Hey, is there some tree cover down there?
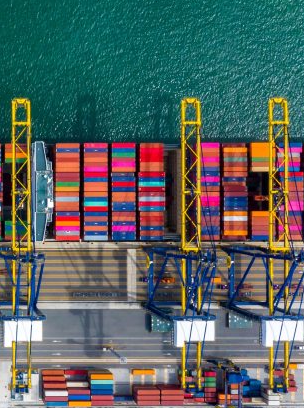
No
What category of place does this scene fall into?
port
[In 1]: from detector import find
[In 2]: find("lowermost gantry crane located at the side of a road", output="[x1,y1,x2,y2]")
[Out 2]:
[203,361,243,408]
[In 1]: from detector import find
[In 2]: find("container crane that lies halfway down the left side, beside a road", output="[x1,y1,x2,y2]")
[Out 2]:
[0,99,47,395]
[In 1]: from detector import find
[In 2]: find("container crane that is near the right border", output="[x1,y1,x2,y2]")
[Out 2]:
[213,99,304,395]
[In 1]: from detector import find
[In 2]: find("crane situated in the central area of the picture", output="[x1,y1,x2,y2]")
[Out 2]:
[136,99,220,395]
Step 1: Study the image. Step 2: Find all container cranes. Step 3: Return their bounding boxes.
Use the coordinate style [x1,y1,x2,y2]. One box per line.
[136,99,220,395]
[203,361,243,408]
[0,99,47,395]
[213,99,304,395]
